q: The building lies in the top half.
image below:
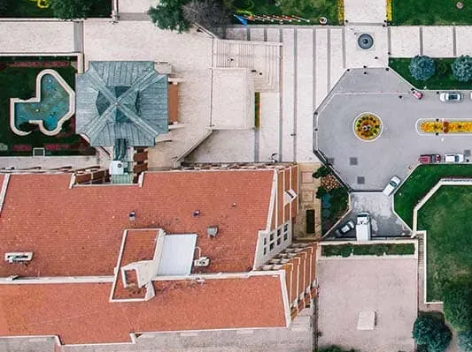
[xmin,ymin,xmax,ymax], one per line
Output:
[75,60,186,178]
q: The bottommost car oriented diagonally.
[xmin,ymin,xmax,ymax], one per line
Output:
[334,219,355,238]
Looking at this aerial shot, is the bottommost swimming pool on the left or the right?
left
